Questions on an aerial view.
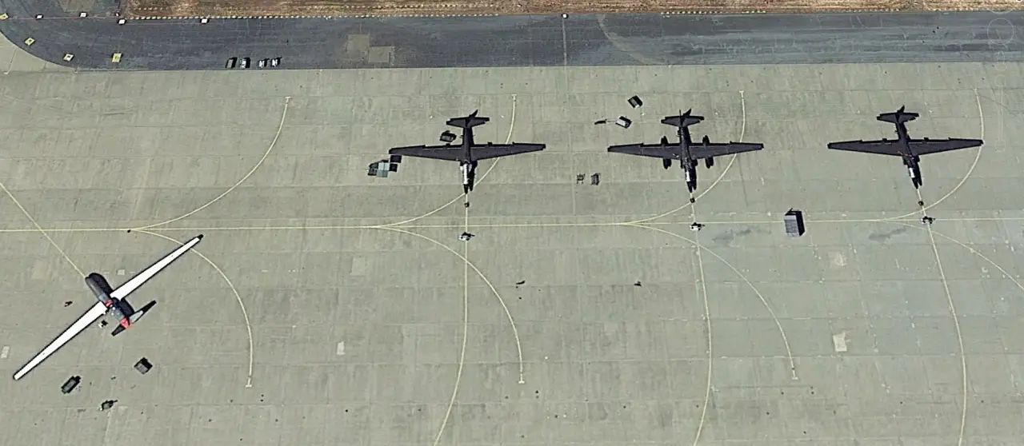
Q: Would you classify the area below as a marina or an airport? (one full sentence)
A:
What you see here is an airport.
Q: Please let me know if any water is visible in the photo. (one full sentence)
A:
No, there's no water in this view.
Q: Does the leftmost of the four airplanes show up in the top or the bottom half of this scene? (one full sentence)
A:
The bottom half of the photo is where the leftmost of the four airplanes is.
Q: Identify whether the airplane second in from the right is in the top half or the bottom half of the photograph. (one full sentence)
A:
The airplane second in from the right is in the top half of the image.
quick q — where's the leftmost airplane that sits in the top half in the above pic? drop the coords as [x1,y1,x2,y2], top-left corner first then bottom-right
[390,116,544,194]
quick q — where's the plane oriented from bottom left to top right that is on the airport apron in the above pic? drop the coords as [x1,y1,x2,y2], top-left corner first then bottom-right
[13,238,200,379]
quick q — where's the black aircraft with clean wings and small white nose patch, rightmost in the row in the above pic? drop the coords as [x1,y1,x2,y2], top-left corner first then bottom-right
[828,110,981,190]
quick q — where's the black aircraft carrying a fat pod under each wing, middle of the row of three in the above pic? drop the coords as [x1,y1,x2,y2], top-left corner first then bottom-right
[608,112,761,193]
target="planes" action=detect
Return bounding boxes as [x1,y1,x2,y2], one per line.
[390,116,544,194]
[608,112,761,193]
[13,238,200,379]
[828,110,981,190]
